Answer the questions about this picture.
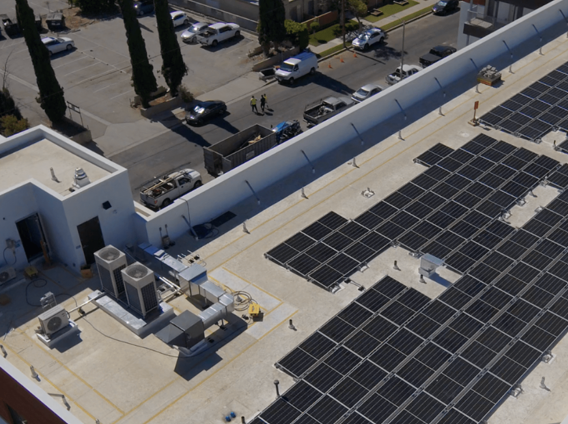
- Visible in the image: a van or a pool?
van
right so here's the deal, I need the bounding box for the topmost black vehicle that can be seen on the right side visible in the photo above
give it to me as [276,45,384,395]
[432,0,458,14]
